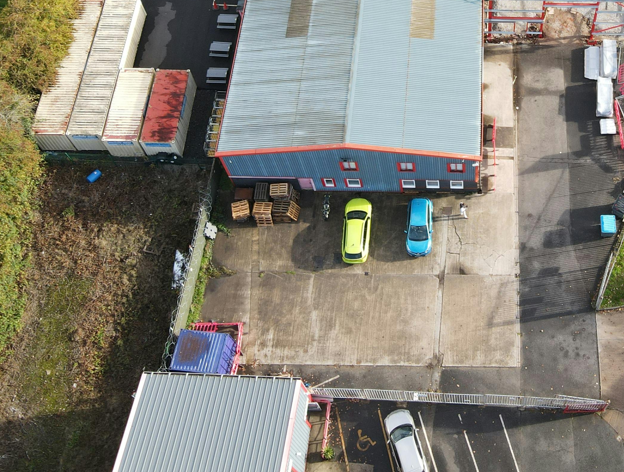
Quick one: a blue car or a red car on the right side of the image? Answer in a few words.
blue car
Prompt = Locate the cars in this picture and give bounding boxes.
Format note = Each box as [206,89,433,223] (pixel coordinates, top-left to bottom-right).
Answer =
[390,410,427,472]
[339,201,374,266]
[402,200,435,259]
